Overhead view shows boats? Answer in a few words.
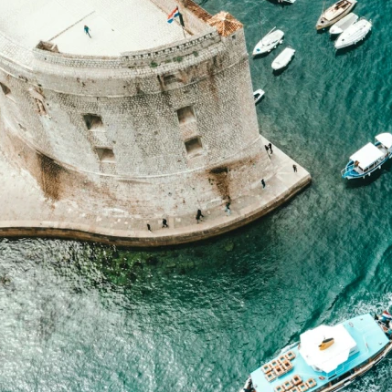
Yes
